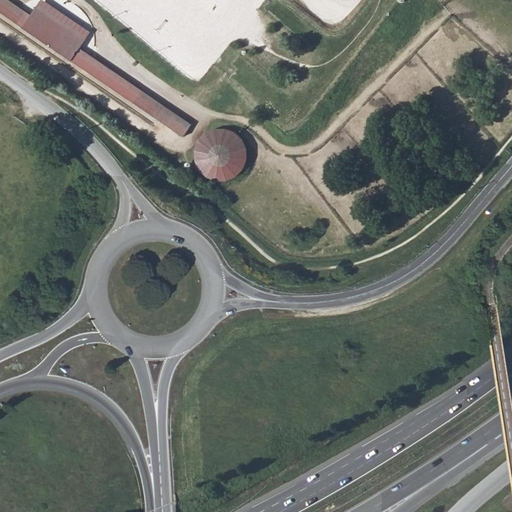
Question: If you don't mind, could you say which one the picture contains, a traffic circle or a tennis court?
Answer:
traffic circle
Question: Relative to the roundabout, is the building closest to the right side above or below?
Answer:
above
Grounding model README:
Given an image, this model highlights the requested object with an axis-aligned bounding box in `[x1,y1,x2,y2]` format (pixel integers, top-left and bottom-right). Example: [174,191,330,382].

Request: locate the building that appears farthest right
[194,129,246,184]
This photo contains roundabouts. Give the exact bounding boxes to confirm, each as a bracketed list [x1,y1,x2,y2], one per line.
[82,216,228,359]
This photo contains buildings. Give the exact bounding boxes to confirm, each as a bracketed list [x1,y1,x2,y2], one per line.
[194,129,246,184]
[72,50,191,136]
[22,0,90,60]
